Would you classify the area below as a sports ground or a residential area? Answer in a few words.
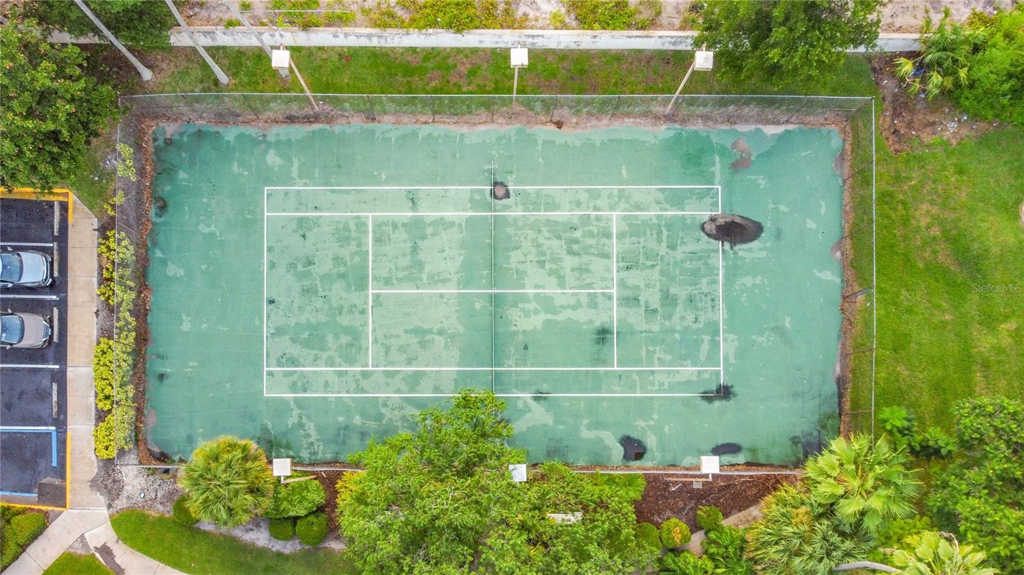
sports ground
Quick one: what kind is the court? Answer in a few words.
tennis court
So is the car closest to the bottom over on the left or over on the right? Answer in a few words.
left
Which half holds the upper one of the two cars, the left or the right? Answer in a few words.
left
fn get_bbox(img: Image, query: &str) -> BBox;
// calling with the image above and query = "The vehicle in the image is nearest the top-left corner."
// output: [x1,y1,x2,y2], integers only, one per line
[0,244,53,290]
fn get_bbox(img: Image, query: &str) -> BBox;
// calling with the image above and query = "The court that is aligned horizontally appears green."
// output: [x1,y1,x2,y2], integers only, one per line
[147,123,842,466]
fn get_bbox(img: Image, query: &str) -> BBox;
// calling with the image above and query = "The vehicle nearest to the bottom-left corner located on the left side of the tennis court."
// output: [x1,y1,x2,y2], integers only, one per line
[0,306,52,351]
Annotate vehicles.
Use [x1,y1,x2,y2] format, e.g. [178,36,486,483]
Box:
[0,244,53,290]
[0,306,52,351]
